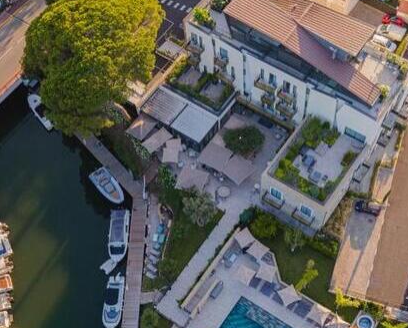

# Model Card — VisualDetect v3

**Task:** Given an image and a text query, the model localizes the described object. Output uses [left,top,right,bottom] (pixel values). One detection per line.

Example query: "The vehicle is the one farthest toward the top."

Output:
[380,13,406,26]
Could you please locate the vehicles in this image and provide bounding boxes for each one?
[370,29,399,54]
[378,22,408,45]
[380,13,406,26]
[355,198,384,218]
